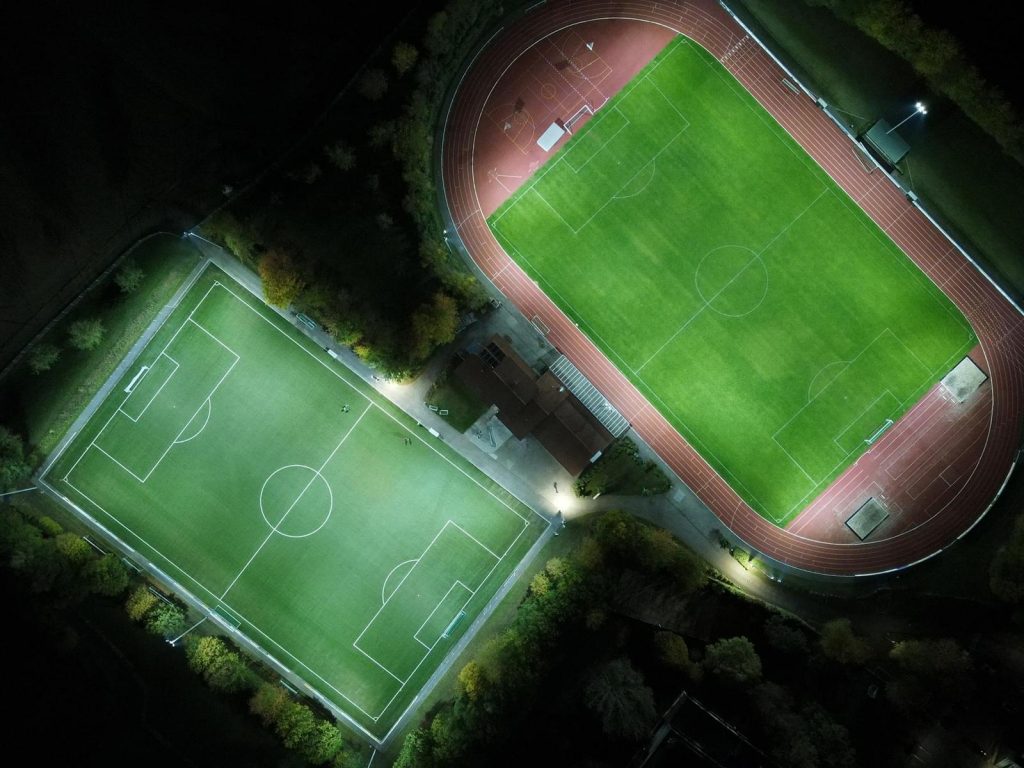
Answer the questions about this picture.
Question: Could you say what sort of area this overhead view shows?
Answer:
sports ground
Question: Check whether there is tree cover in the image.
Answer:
Yes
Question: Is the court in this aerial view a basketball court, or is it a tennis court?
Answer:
basketball court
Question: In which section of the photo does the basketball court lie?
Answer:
top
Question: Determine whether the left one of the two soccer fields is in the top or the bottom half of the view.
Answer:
bottom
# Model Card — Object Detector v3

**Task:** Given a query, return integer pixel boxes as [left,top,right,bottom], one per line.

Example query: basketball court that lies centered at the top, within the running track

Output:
[488,29,609,149]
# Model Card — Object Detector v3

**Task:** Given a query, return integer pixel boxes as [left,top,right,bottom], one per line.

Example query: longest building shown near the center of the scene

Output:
[453,330,614,476]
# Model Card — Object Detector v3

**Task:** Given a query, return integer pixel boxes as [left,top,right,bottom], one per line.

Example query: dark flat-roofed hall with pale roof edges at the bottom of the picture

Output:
[631,685,787,768]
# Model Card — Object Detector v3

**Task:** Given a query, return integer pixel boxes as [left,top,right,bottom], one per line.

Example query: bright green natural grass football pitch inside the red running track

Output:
[486,33,979,529]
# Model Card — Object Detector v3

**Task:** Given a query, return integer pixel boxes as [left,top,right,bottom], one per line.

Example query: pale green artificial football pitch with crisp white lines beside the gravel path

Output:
[43,263,550,743]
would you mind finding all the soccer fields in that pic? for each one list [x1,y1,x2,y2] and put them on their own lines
[43,263,550,743]
[486,33,979,529]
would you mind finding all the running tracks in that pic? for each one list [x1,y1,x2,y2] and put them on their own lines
[443,0,1024,575]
